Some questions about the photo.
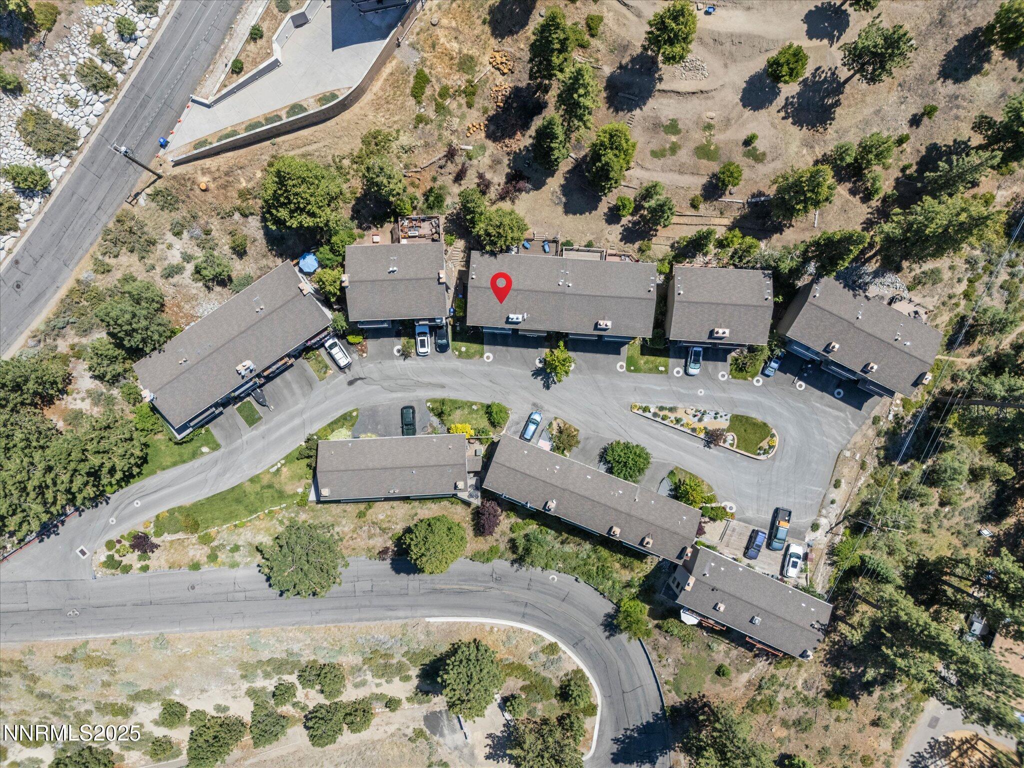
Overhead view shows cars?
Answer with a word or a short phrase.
Yes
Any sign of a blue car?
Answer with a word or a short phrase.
Yes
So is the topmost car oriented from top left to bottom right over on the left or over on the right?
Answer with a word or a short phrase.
left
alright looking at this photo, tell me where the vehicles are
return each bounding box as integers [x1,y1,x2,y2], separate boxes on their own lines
[745,528,766,559]
[784,544,803,578]
[415,325,431,357]
[761,353,786,380]
[325,338,351,370]
[687,348,702,376]
[521,410,542,441]
[434,325,450,353]
[400,405,416,436]
[769,508,791,550]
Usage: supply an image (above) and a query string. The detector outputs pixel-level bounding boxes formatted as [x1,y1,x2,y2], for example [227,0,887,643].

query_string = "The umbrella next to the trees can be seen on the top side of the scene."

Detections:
[299,253,319,273]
